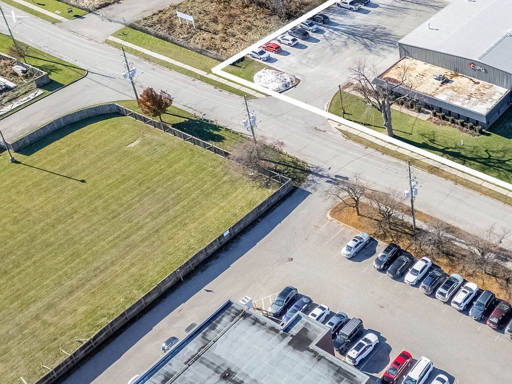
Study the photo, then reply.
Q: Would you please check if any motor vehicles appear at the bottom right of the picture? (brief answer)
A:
Yes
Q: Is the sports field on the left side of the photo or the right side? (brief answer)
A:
left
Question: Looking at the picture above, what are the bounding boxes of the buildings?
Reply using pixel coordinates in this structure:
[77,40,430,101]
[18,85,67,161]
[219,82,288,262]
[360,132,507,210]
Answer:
[135,299,373,384]
[375,0,512,129]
